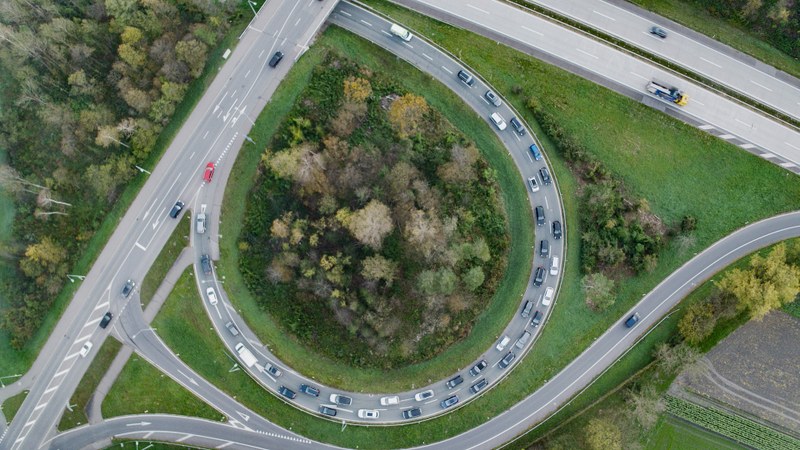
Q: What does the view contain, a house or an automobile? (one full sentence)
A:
The one in the frame is an automobile.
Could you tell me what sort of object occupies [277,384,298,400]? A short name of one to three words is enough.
car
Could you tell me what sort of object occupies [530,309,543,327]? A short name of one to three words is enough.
vehicle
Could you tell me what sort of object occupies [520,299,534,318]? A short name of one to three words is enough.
vehicle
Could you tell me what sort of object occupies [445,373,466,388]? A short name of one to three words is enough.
car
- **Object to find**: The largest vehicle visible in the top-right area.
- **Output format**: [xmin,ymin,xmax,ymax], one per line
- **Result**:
[644,80,691,107]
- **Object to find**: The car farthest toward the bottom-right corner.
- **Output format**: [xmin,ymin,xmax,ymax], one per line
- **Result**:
[623,311,640,328]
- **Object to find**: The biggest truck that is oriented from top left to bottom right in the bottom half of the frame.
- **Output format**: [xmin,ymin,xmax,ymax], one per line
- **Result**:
[234,342,259,371]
